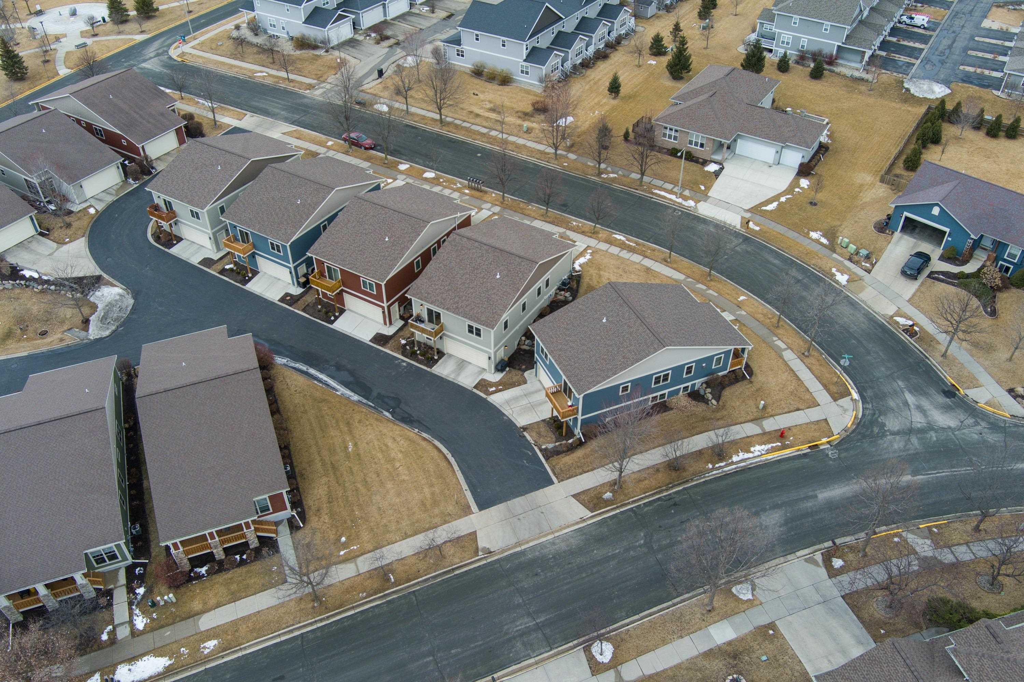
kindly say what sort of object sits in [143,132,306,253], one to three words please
house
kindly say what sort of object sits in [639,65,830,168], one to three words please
house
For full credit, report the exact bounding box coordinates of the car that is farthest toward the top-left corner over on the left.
[342,131,375,149]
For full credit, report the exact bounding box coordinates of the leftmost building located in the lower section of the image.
[0,359,155,623]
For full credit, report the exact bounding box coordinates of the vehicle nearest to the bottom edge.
[901,252,931,278]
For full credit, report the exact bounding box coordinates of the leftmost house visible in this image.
[0,183,53,253]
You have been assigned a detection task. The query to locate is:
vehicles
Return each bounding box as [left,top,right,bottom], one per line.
[342,131,375,149]
[901,252,931,278]
[900,12,932,28]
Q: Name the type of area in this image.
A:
residential area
